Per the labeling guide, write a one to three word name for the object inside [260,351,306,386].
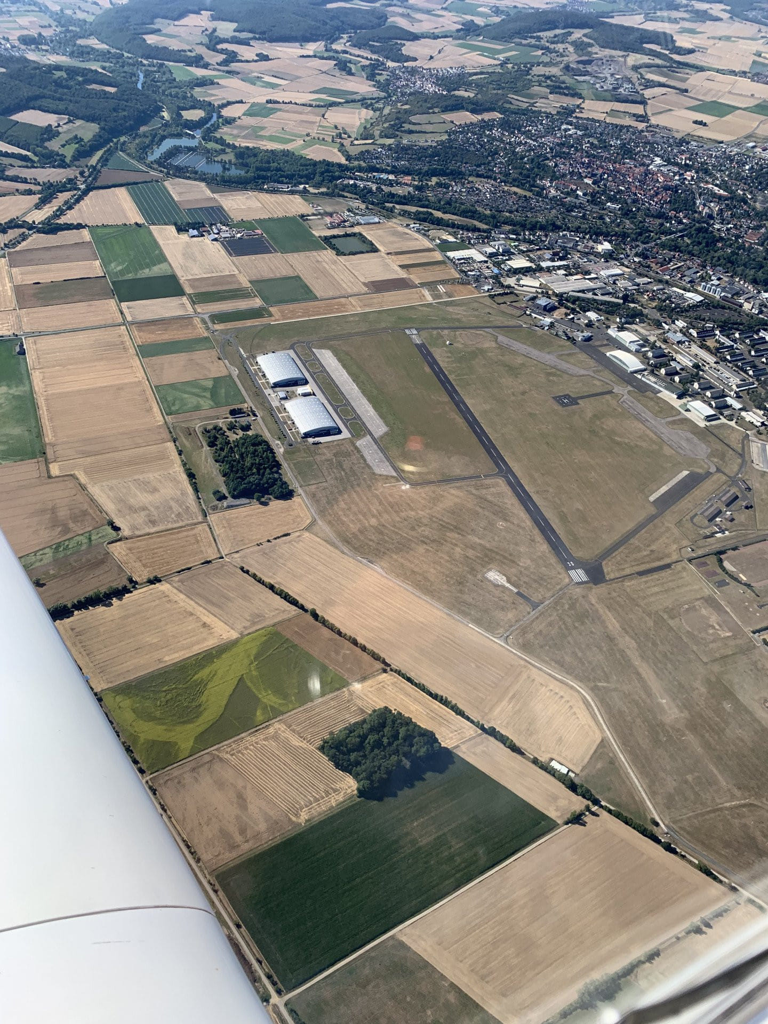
hangar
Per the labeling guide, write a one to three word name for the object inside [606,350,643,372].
hangar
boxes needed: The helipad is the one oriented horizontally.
[552,390,615,407]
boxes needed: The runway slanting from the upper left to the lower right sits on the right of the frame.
[406,327,591,586]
